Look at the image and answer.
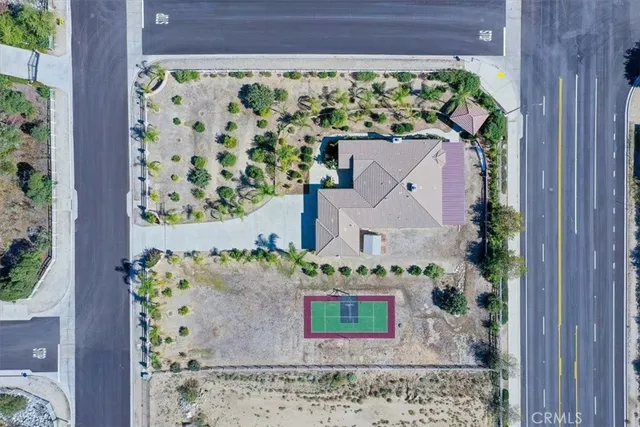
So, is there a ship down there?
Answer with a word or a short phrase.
No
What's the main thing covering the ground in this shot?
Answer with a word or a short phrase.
paved ground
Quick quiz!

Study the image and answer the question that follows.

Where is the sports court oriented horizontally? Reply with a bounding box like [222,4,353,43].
[304,296,395,338]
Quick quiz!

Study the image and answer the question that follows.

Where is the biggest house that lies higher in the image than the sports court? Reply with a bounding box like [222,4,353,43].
[315,138,464,256]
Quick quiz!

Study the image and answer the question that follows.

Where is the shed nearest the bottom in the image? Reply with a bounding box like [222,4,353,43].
[363,234,381,255]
